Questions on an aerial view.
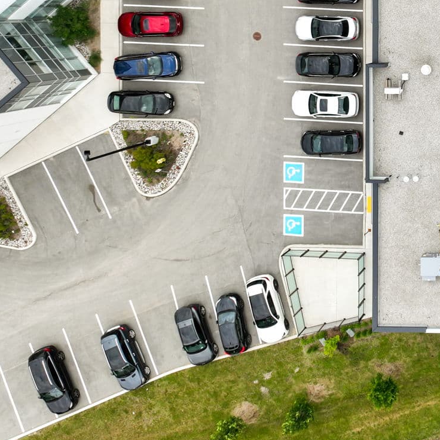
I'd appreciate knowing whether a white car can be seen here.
Yes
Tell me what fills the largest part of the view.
paved ground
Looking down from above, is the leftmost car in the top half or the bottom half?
bottom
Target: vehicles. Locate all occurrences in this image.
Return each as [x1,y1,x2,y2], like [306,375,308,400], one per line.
[209,293,255,361]
[291,88,360,121]
[294,12,360,44]
[300,128,362,160]
[28,347,78,416]
[97,325,149,393]
[116,8,183,41]
[246,276,289,344]
[294,0,361,7]
[173,302,218,368]
[293,49,361,80]
[105,88,175,120]
[110,50,182,81]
